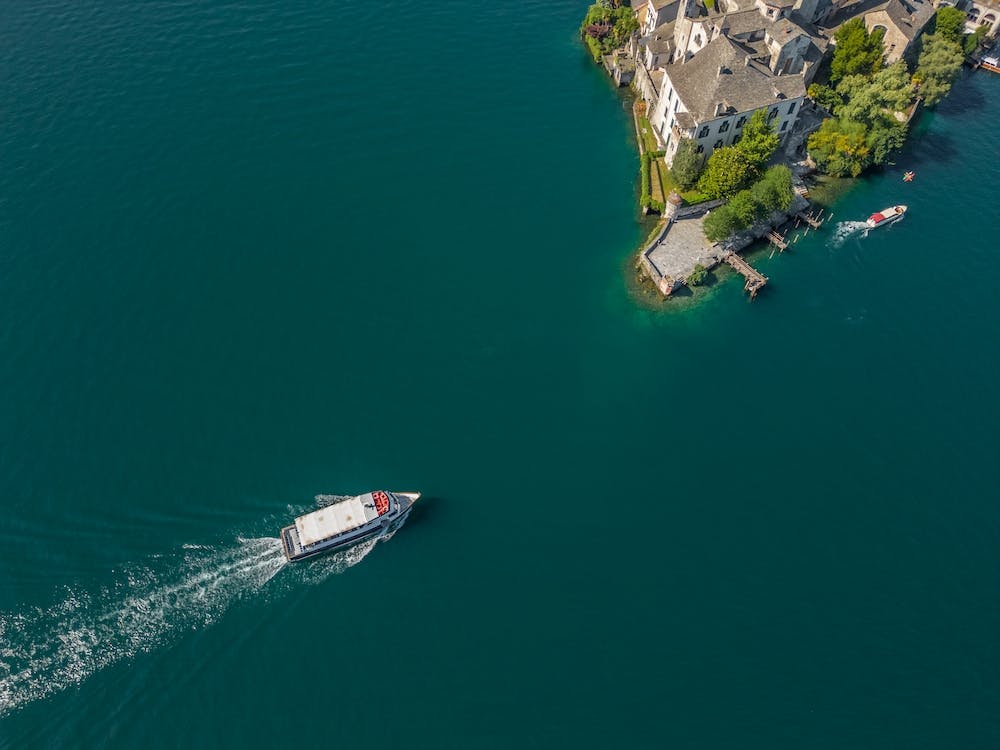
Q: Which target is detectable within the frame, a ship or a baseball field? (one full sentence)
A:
The image shows a ship.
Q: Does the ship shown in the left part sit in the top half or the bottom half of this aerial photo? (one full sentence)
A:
The ship shown in the left part sits in the bottom half of the picture.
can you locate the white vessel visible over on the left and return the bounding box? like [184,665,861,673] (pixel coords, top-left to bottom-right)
[282,491,423,564]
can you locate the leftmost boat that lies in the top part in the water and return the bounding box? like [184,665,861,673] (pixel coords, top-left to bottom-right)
[865,205,906,229]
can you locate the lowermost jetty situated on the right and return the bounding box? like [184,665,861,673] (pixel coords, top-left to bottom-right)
[731,252,769,293]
